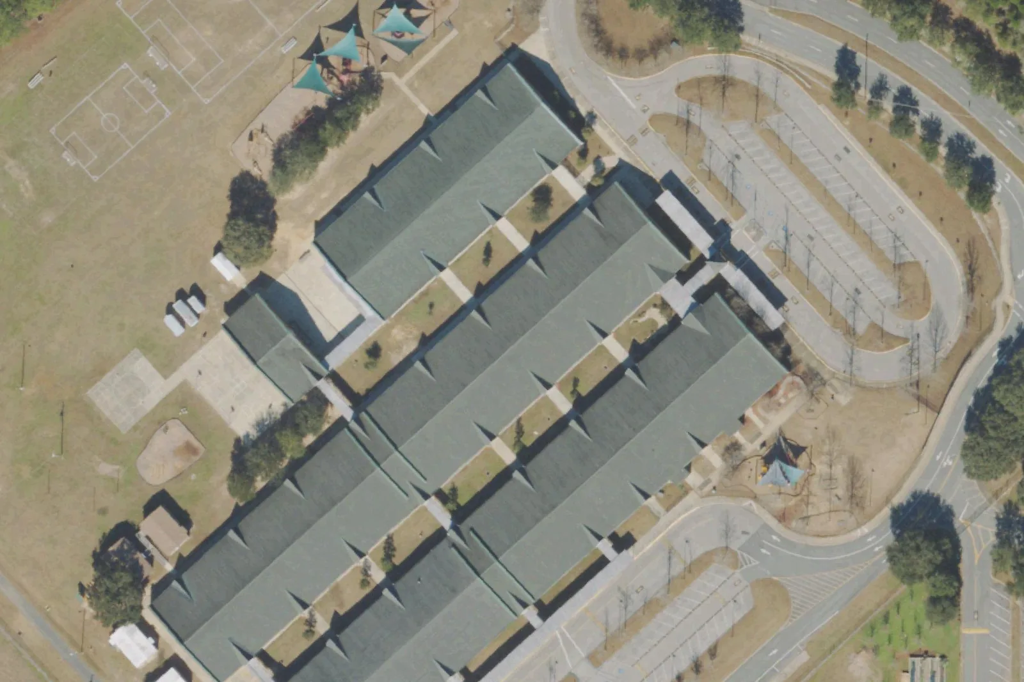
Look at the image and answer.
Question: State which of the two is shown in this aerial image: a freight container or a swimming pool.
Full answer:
Looking from above, you can make out a freight container.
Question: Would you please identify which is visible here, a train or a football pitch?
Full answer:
The one in the frame is a football pitch.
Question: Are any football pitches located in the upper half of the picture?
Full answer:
Yes, I can see a football pitch in the upper half of the picture.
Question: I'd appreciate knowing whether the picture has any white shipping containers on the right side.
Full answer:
No, there is no white shipping container on the right side.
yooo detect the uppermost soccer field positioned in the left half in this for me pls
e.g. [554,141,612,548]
[116,0,324,102]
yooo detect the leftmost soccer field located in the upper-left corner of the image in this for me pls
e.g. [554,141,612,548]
[52,64,169,178]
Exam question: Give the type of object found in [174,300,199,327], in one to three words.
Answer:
shipping container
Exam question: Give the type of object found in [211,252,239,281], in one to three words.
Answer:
shed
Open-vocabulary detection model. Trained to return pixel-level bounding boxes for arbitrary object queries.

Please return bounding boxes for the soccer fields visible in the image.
[52,64,169,178]
[116,0,324,102]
